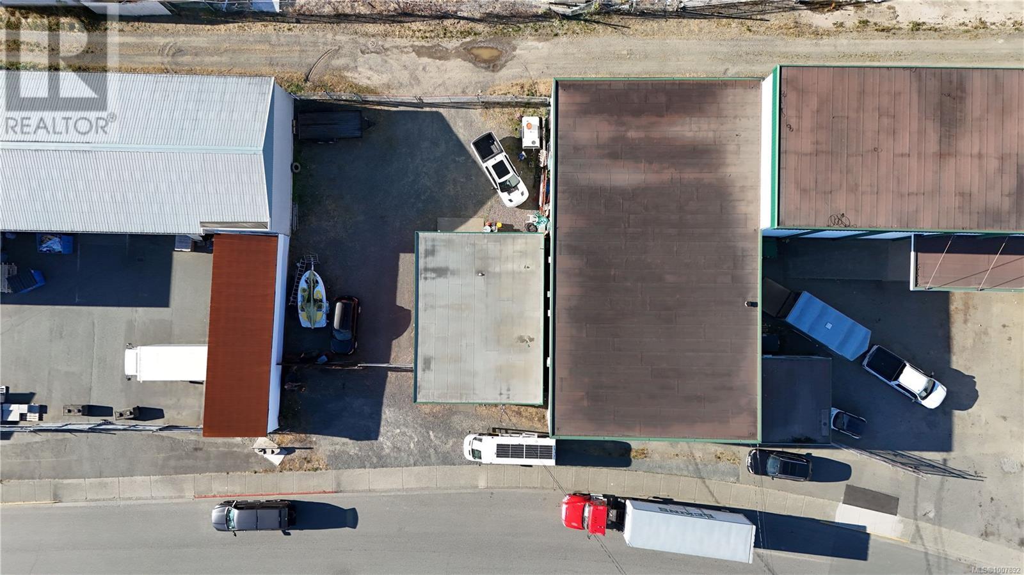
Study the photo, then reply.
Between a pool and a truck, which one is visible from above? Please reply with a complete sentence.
Of the two, only a truck appears.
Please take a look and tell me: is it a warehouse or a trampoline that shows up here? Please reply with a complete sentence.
There is a warehouse in the scene.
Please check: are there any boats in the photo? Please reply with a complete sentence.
Yes, the frame does contain a boat.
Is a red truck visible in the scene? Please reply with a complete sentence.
Yes, this view includes a red truck.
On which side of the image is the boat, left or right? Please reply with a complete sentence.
The boat is on the left side of the image.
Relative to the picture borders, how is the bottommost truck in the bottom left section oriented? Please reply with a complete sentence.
The bottommost truck in the bottom left section is oriented from side to side.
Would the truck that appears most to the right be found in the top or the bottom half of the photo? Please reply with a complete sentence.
It is in the bottom half that the truck that appears most to the right appears.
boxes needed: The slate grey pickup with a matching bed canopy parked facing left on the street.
[212,498,297,537]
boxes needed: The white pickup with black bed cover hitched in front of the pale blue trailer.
[859,344,944,408]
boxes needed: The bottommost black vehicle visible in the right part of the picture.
[745,447,813,483]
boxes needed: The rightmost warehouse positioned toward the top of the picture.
[760,66,1024,293]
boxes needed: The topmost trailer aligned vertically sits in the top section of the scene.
[520,116,542,161]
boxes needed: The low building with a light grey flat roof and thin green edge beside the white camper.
[414,232,545,409]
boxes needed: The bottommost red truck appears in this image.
[557,488,663,534]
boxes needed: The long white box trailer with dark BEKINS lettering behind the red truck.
[623,497,758,563]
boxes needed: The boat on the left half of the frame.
[297,270,329,329]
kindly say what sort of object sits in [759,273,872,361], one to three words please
trailer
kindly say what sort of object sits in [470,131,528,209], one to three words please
truck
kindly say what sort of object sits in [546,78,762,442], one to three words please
warehouse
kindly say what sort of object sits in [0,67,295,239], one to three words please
warehouse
